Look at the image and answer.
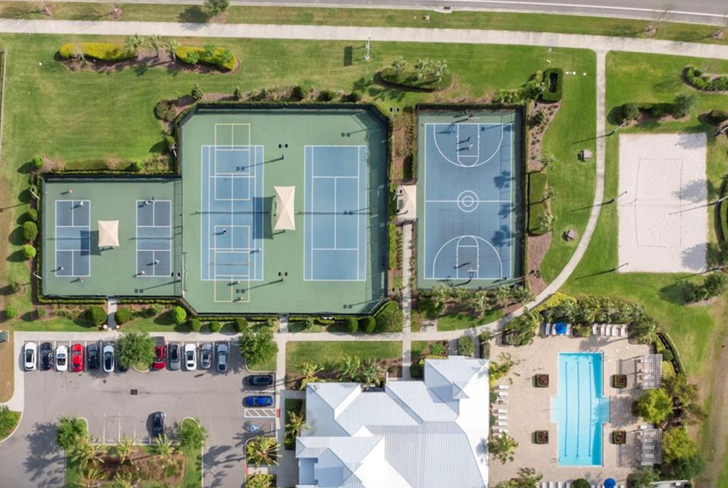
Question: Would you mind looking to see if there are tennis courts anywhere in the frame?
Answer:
Yes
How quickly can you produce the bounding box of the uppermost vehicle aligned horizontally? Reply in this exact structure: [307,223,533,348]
[248,373,274,386]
